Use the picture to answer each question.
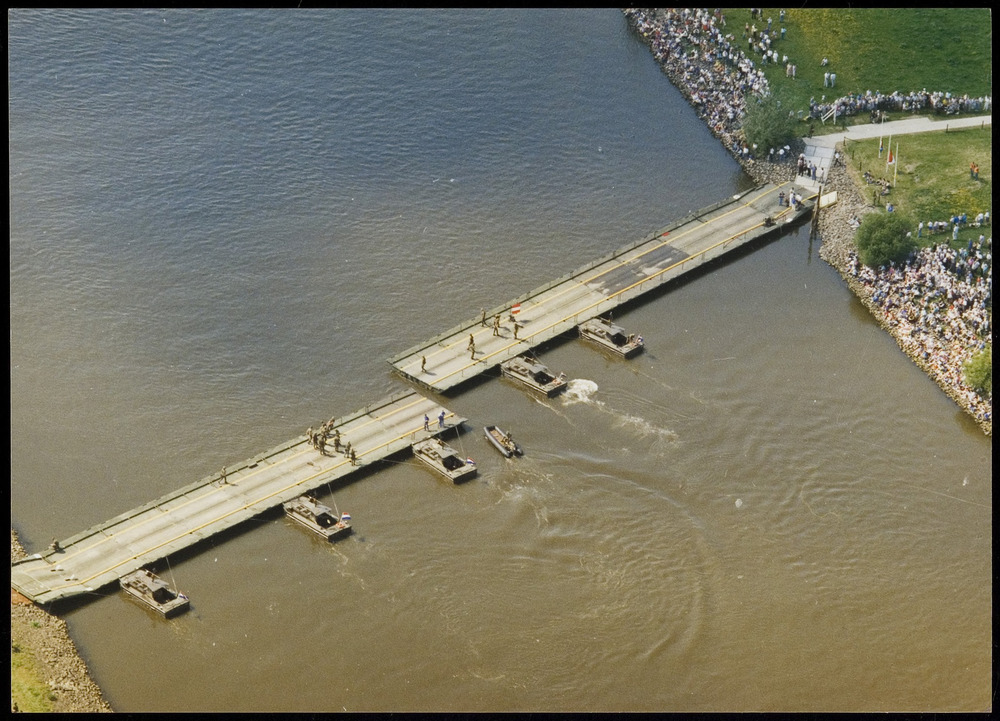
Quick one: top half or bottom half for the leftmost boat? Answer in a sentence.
You can find the leftmost boat in the bottom half.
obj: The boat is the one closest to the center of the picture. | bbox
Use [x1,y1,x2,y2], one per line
[505,352,567,401]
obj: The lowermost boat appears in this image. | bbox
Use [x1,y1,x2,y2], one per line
[128,556,191,623]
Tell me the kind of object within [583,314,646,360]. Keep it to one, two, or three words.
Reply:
boat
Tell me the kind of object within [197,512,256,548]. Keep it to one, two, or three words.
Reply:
pier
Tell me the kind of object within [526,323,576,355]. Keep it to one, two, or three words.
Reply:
pier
